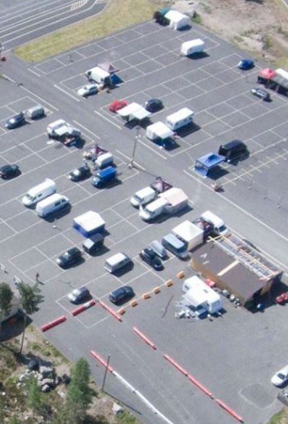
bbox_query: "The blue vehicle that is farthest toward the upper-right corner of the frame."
[236,58,257,72]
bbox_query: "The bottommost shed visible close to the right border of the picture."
[185,228,288,311]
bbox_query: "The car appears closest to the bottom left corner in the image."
[64,285,96,304]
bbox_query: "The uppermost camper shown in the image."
[181,35,207,55]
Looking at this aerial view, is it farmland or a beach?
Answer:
farmland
